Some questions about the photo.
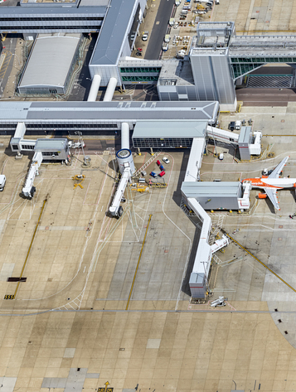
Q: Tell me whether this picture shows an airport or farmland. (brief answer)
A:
airport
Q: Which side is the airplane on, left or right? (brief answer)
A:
right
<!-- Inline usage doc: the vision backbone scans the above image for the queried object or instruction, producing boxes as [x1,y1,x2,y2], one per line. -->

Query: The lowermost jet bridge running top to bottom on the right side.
[236,179,254,219]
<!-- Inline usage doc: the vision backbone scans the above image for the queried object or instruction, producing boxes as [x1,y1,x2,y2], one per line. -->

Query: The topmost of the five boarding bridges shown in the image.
[249,128,265,164]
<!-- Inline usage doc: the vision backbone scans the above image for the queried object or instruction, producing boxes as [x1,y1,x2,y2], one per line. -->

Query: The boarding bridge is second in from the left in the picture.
[109,165,131,220]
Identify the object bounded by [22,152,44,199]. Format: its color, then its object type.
white jet bridge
